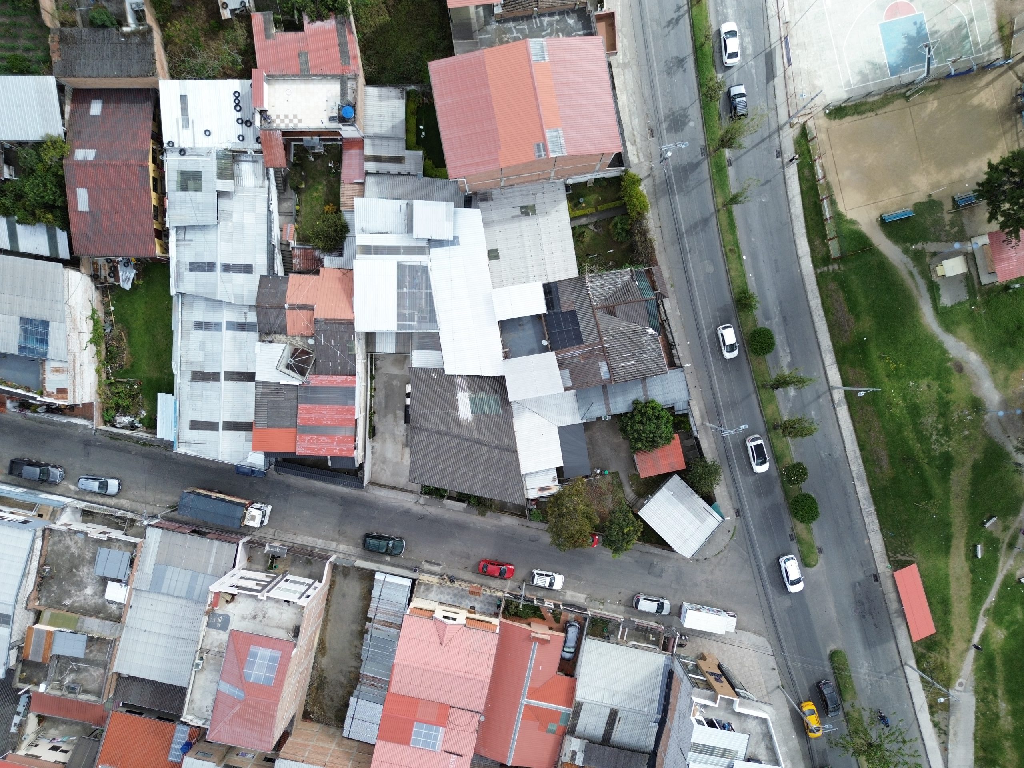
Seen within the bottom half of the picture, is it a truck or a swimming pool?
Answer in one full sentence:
You can see a truck within the bottom half of the picture.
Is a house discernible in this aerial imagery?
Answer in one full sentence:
Yes, a house is visible in the scene.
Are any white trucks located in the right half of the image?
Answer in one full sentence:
Yes, a white truck appears in the right half of the image.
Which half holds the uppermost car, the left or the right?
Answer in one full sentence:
You can find the uppermost car on the right side of the picture.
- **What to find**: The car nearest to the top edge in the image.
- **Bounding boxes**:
[718,22,741,69]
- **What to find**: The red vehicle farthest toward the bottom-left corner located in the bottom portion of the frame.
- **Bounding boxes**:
[475,558,517,581]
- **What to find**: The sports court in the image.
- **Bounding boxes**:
[785,0,1004,114]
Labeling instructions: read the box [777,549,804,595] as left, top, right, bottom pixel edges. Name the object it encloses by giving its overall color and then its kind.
white car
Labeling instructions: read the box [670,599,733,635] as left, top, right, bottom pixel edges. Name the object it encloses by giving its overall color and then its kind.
white truck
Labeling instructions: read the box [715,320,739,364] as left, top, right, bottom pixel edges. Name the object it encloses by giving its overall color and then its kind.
white car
